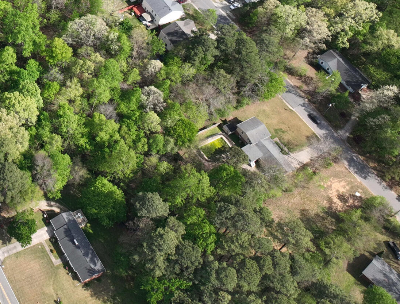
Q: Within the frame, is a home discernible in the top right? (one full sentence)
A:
Yes, looking in the top right, one can make out a home.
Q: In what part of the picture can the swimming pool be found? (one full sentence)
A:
The swimming pool sits in the center section of the image.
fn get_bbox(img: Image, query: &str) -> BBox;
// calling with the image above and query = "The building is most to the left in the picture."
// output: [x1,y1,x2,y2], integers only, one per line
[46,212,108,289]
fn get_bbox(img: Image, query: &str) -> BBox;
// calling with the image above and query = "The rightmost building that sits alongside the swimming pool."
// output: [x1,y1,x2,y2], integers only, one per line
[229,120,293,186]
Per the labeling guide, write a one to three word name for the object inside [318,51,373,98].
house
